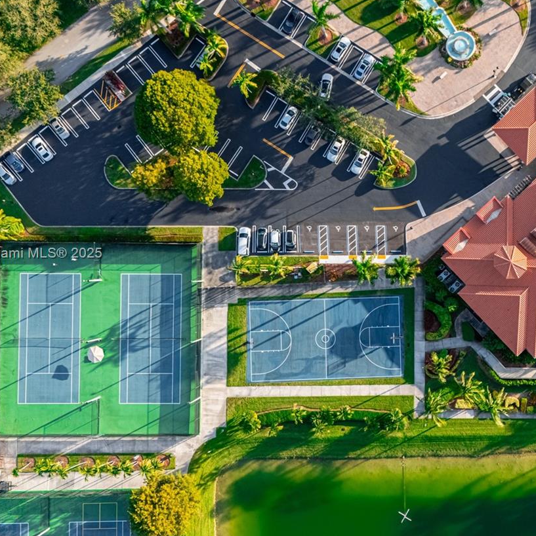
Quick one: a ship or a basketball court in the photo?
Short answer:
basketball court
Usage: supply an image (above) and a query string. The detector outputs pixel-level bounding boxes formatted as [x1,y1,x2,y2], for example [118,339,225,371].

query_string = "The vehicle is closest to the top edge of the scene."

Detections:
[281,7,301,34]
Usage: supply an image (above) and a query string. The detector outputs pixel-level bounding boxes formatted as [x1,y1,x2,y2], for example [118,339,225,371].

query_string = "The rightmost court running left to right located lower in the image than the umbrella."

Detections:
[50,495,147,536]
